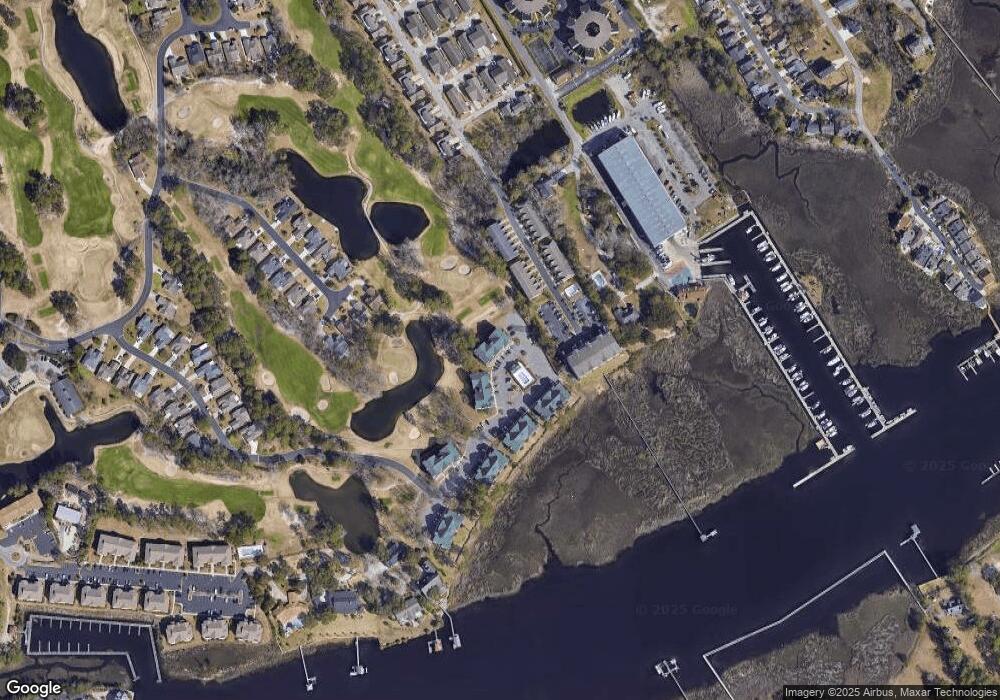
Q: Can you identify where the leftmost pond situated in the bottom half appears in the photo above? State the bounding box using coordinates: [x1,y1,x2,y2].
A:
[0,396,139,508]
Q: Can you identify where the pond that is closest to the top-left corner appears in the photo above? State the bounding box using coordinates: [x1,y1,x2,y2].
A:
[53,0,128,134]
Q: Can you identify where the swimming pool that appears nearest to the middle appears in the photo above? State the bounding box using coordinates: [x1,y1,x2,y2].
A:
[514,366,535,388]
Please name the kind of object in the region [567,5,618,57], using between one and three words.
building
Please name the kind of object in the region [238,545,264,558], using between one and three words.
swimming pool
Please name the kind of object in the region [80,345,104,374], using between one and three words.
house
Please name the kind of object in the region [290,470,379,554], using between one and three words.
pond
